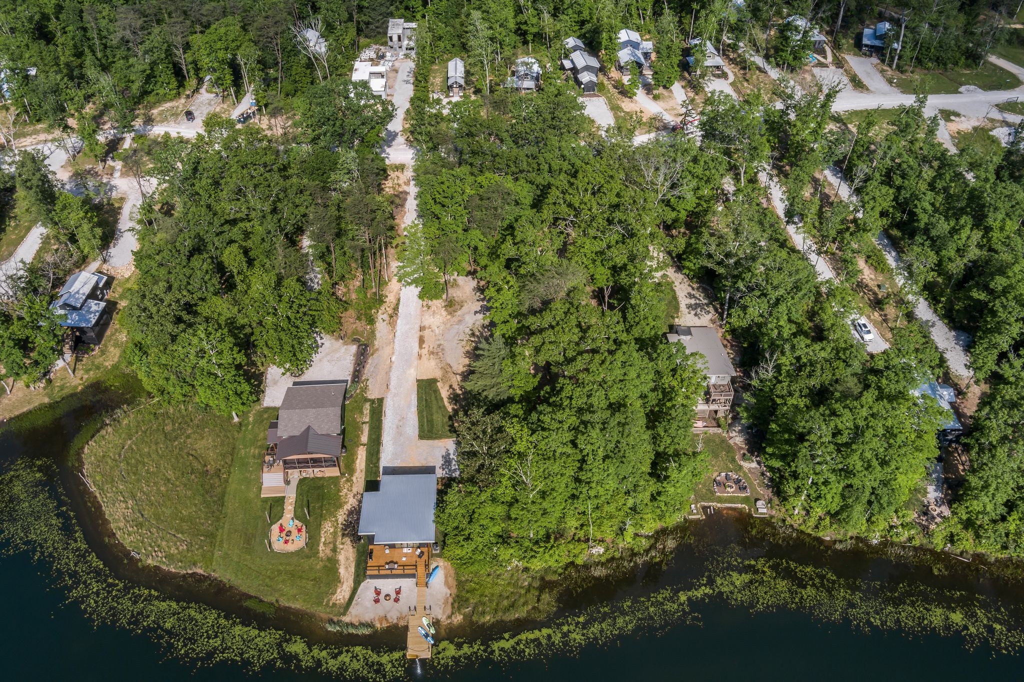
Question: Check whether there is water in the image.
Yes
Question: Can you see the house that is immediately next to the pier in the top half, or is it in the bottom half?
bottom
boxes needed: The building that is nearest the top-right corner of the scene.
[858,18,899,57]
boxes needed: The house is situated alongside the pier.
[358,474,440,560]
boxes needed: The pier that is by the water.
[405,587,432,659]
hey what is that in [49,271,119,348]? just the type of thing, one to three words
house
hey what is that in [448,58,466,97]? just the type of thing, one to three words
house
